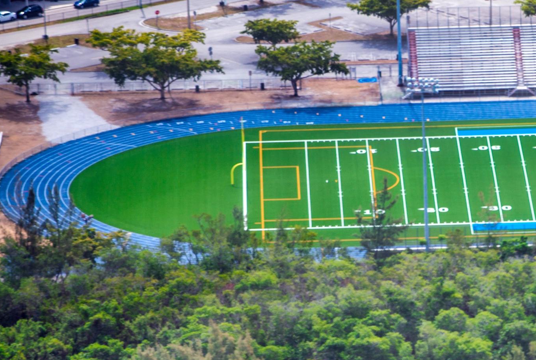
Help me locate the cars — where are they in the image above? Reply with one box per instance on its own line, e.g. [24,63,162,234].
[0,12,16,21]
[17,4,43,17]
[73,0,100,7]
